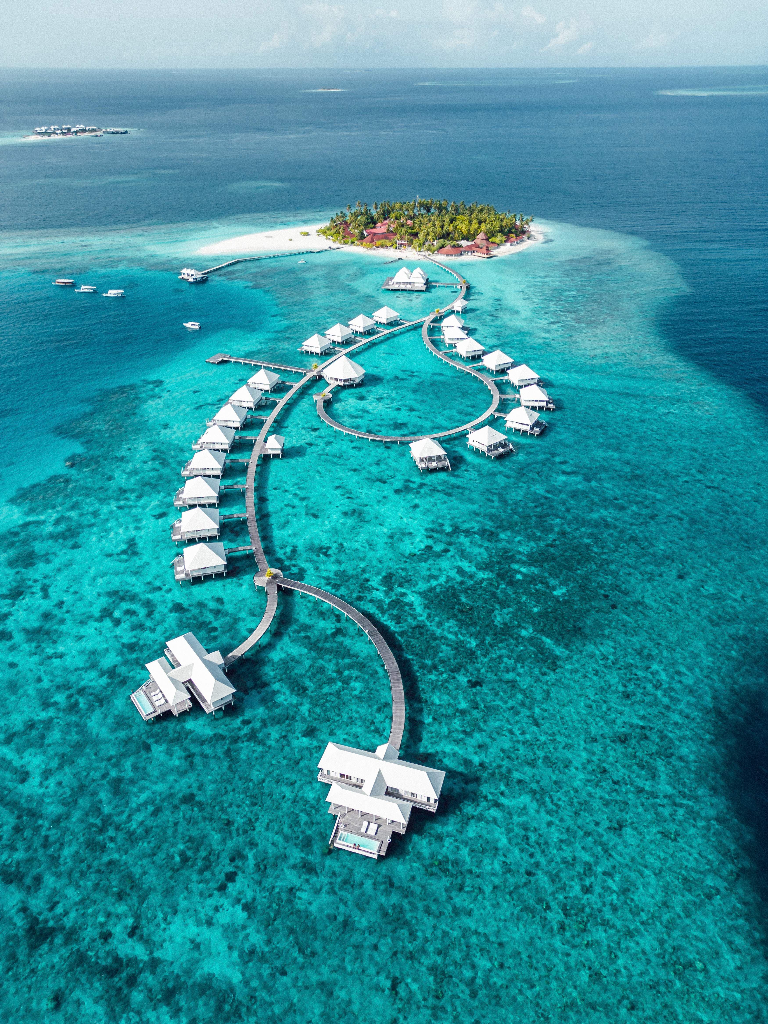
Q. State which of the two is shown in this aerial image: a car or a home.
home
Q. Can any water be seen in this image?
Yes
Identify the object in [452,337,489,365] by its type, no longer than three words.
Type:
house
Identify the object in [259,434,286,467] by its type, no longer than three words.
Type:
shed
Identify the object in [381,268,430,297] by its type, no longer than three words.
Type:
building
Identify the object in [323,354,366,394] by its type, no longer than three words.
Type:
building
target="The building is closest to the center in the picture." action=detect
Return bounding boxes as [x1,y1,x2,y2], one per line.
[409,437,454,480]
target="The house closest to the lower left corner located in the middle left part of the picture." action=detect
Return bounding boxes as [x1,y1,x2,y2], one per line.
[168,542,230,593]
